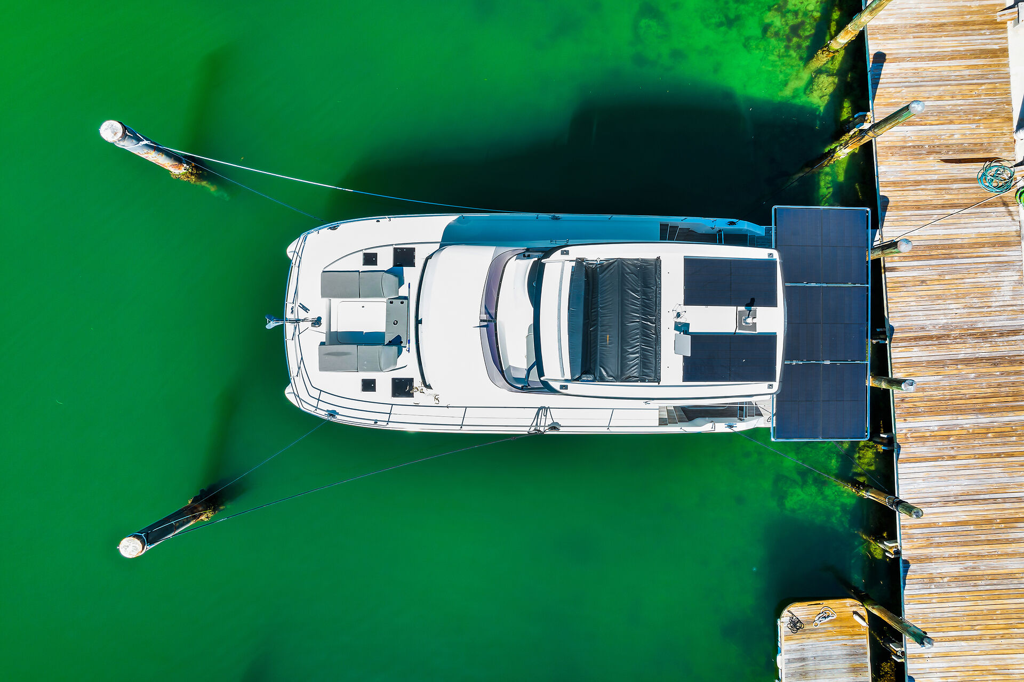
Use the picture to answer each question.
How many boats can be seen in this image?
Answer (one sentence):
I count just 1 boat.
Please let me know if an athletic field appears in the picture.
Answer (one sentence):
No, the picture doesn't show any athletic field.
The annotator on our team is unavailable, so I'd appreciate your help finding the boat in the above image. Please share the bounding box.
[265,206,871,441]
